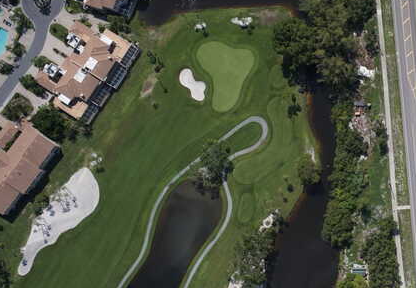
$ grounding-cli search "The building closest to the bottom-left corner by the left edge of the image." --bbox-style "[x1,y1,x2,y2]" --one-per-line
[0,118,66,216]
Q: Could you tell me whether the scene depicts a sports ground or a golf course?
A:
golf course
